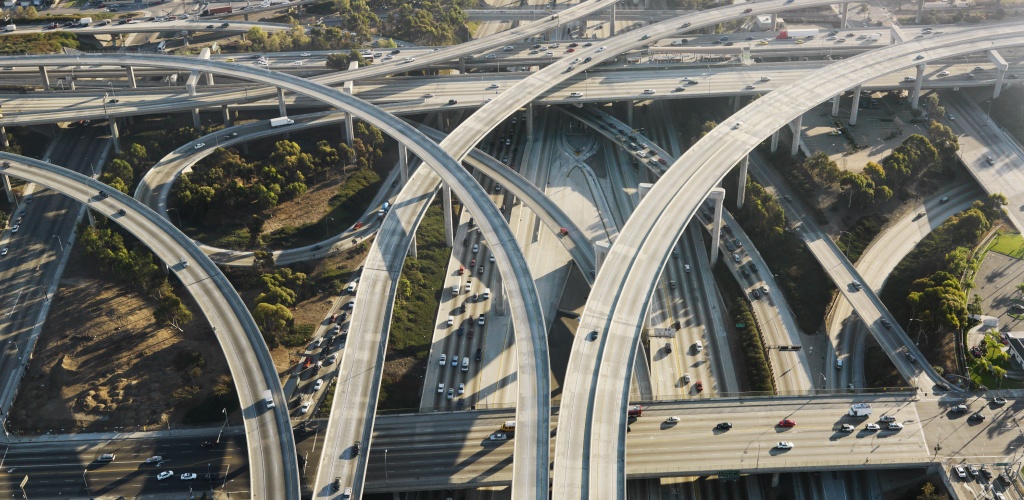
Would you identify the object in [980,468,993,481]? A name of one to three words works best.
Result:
vehicle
